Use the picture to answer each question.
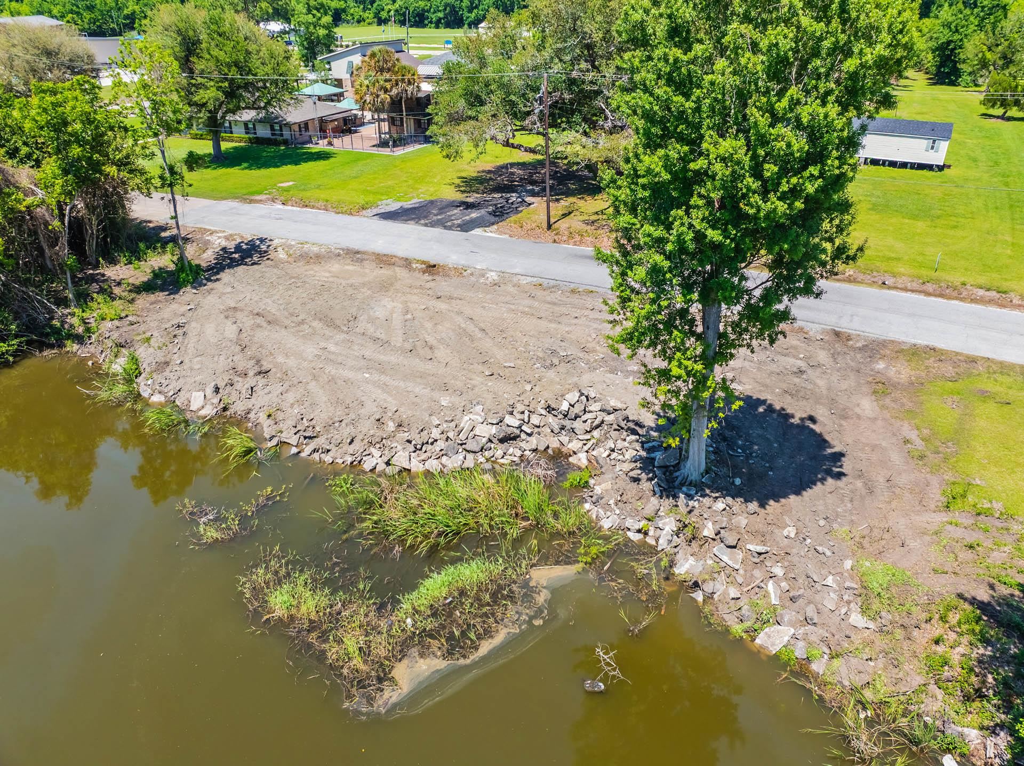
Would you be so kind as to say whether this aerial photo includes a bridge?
No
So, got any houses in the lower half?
No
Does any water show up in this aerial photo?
Yes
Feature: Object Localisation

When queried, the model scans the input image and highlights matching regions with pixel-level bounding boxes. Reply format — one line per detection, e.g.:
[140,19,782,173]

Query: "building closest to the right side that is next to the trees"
[859,114,956,171]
